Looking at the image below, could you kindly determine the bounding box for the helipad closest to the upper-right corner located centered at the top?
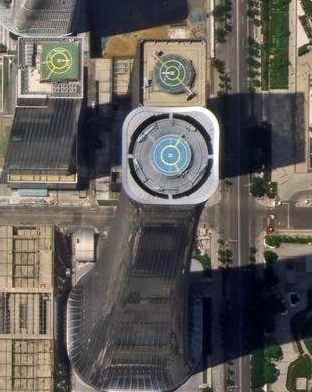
[149,52,190,92]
